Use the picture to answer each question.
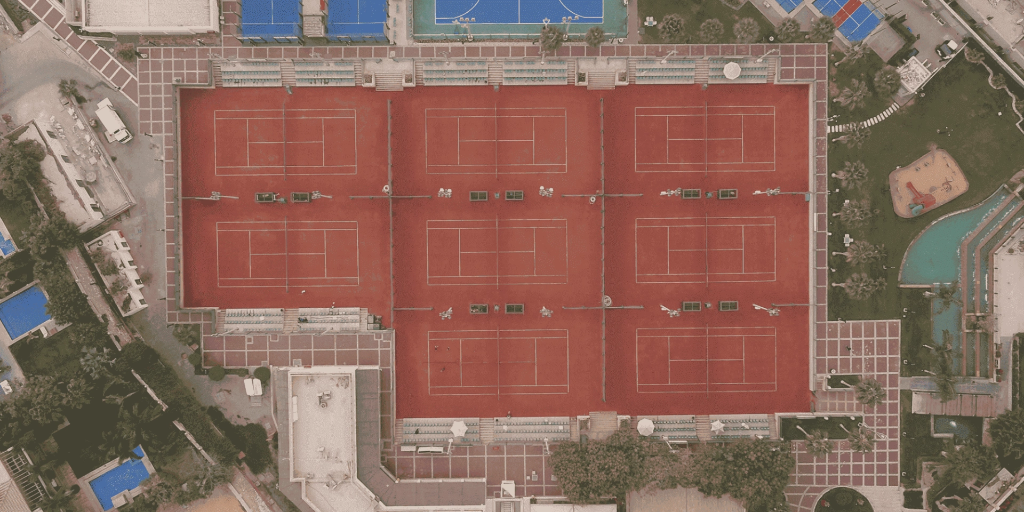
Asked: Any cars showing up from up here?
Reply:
Yes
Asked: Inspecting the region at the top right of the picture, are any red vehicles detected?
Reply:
No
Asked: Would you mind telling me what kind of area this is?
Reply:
sports ground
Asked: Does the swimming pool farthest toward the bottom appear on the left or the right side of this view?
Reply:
left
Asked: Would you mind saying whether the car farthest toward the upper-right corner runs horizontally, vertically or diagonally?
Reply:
diagonally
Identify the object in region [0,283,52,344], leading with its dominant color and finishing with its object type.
blue swimming pool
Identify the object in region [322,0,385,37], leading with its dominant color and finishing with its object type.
blue sports court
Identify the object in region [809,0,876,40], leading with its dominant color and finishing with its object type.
blue tennis court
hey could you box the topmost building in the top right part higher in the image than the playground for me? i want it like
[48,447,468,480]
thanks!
[864,22,903,62]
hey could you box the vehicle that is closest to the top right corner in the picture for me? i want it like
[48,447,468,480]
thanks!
[934,35,965,60]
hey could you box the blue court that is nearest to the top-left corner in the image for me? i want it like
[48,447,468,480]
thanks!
[234,0,301,38]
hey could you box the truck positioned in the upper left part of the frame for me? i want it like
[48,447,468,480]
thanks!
[87,93,127,140]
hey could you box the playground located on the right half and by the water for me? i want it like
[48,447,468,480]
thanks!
[889,149,969,218]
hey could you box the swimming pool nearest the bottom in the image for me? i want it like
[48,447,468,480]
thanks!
[84,441,153,512]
